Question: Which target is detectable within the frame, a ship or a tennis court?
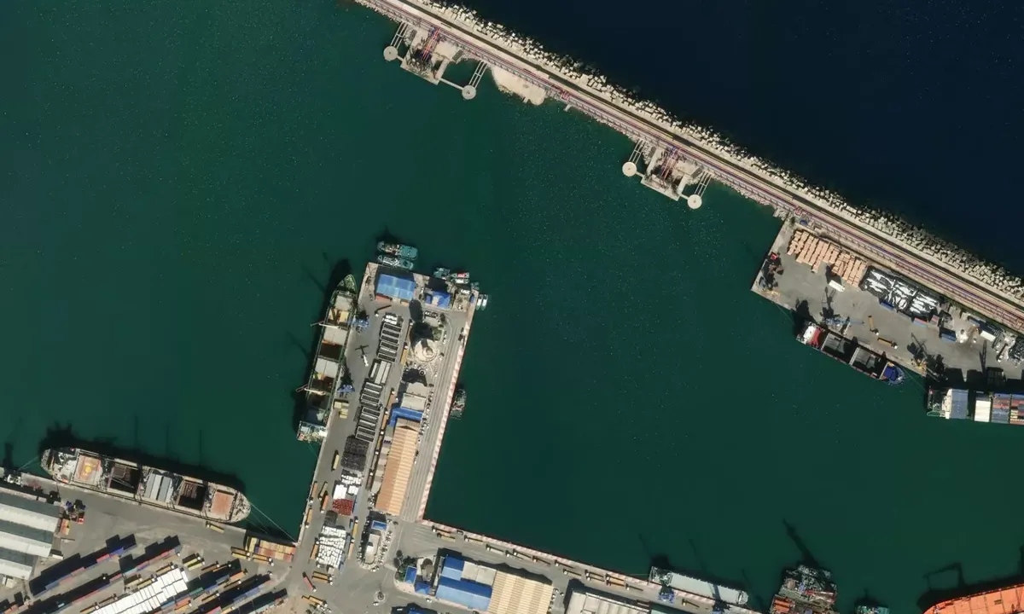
ship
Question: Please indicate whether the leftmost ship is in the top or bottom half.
bottom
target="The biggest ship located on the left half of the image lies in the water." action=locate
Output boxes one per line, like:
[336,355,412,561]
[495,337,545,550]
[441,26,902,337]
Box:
[38,445,250,523]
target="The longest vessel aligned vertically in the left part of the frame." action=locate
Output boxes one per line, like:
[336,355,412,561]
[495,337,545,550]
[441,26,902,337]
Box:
[296,274,357,445]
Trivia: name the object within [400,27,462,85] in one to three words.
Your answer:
pier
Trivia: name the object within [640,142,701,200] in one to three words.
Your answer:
pier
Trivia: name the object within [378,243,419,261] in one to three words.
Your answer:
boat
